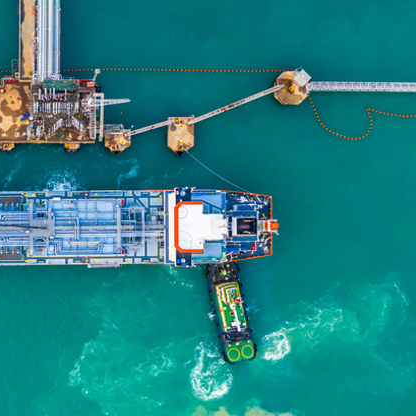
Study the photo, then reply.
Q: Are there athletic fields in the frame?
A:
No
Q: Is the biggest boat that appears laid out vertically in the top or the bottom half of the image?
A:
bottom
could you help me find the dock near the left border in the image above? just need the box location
[20,0,63,80]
